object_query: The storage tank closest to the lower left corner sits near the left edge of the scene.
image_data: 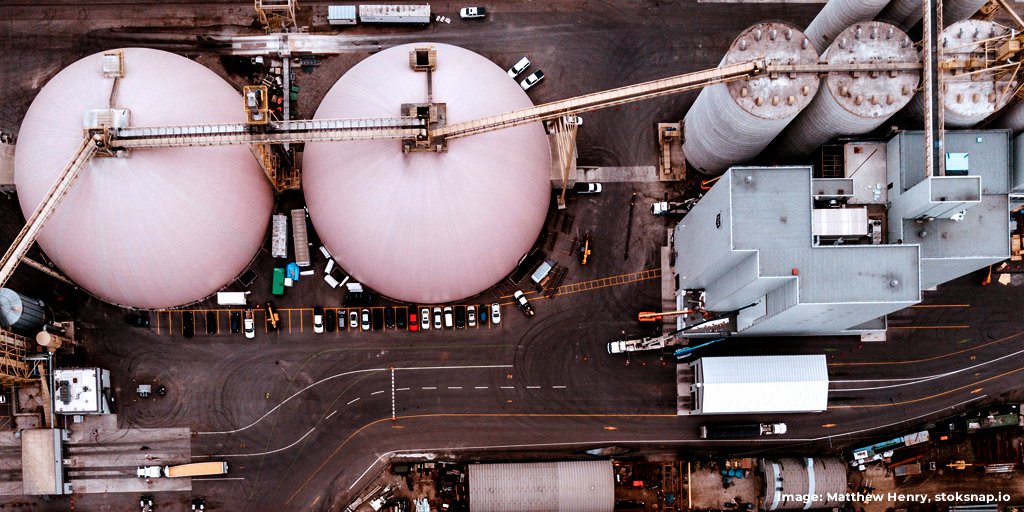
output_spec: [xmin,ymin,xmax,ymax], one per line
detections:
[0,287,47,333]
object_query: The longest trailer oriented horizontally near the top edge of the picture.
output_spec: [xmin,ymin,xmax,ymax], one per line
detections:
[360,6,431,29]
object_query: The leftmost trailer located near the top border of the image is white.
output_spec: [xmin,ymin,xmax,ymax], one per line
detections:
[328,6,357,30]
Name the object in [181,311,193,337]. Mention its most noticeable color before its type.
black vehicle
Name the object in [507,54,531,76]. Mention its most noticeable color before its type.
white vehicle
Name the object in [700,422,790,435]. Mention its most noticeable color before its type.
black vehicle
